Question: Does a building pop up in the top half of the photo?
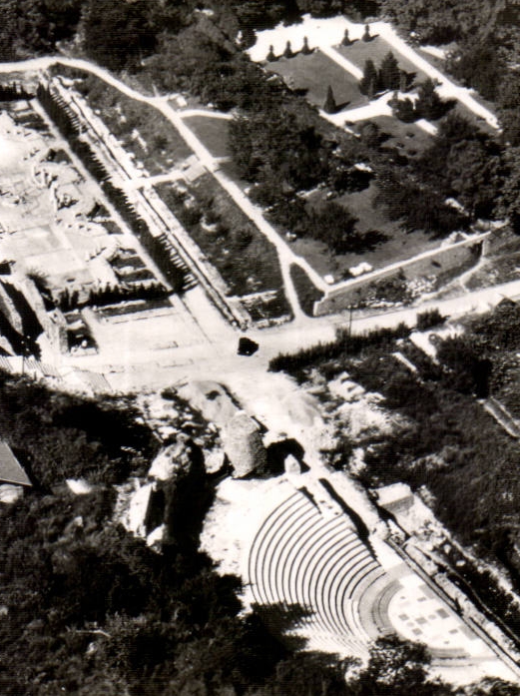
No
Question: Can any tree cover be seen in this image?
Yes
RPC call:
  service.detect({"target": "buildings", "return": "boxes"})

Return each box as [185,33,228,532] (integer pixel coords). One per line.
[373,485,414,520]
[0,441,32,506]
